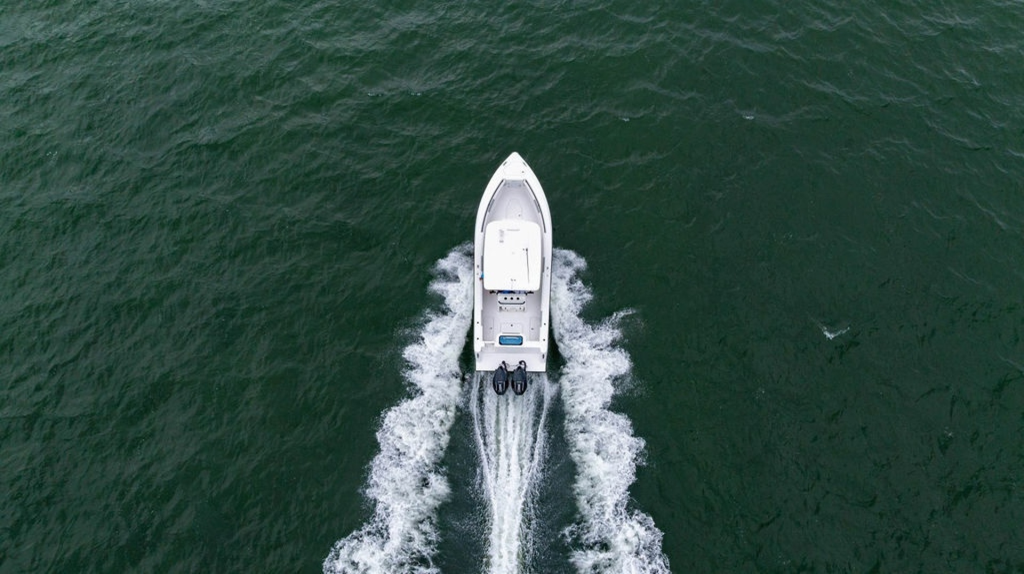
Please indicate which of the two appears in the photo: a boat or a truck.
boat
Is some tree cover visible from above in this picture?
No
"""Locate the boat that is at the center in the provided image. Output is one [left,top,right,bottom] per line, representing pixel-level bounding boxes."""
[472,151,553,398]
